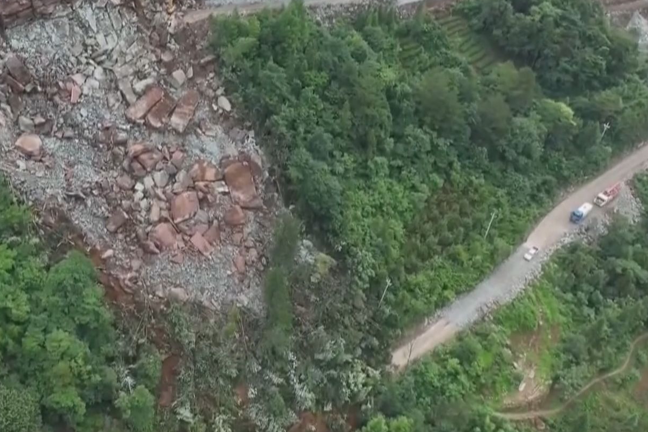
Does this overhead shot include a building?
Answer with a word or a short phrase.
No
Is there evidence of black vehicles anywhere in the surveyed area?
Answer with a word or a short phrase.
No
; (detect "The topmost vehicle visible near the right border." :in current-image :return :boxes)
[595,175,626,203]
